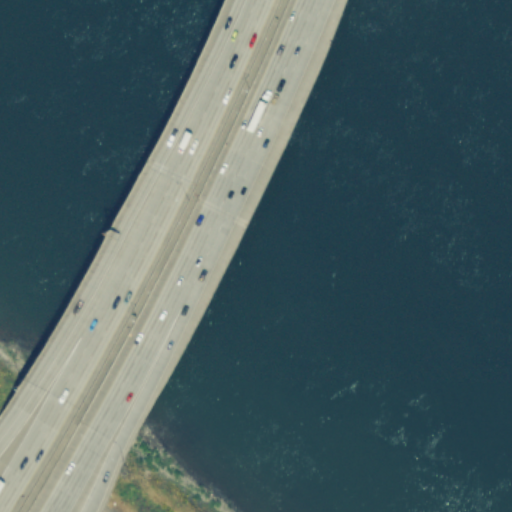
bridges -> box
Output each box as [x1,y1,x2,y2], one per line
[0,0,348,512]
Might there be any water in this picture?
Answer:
Yes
